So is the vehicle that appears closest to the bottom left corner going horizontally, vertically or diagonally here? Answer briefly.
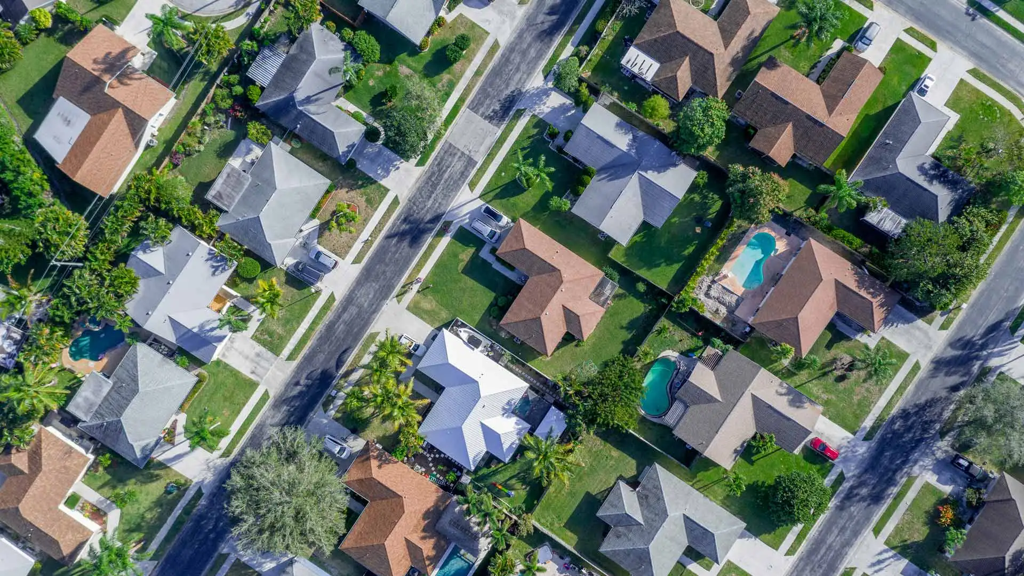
diagonally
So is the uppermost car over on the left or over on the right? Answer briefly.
right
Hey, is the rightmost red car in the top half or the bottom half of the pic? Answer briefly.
bottom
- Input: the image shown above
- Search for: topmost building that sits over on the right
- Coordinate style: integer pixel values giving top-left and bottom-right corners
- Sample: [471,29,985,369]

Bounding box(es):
[632,0,781,102]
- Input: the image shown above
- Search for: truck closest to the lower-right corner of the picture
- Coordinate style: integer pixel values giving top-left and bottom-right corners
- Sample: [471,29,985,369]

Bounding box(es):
[950,452,990,484]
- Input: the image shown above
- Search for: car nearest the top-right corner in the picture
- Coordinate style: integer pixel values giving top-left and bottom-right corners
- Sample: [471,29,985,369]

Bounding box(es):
[913,73,937,99]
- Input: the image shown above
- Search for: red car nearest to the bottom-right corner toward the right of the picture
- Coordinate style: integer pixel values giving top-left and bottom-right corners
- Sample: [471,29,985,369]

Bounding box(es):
[808,435,841,461]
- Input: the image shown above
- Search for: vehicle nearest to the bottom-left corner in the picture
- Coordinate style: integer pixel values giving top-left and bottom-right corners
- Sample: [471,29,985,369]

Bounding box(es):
[321,432,353,460]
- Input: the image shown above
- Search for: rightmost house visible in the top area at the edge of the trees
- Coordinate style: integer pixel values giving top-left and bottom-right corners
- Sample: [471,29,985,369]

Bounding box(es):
[848,91,976,228]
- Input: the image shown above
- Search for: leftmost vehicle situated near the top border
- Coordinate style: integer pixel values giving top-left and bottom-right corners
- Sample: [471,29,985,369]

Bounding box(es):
[855,19,882,54]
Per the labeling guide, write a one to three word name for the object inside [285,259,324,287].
truck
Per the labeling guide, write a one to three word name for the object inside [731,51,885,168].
house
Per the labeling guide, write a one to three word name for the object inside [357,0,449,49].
house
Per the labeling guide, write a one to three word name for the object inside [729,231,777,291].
swimming pool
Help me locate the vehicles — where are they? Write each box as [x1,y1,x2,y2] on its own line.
[950,452,990,484]
[396,331,429,359]
[321,432,353,460]
[480,202,511,230]
[469,217,501,244]
[308,245,340,270]
[808,435,841,461]
[913,73,937,99]
[285,259,324,287]
[855,19,882,54]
